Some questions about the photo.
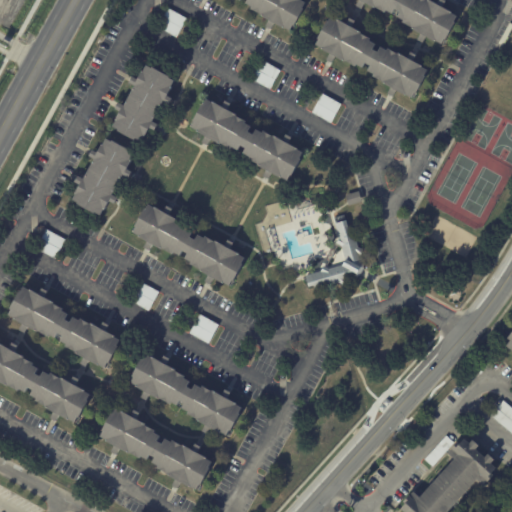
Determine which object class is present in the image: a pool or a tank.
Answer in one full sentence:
The image shows a pool.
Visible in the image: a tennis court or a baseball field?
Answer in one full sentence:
Visible in the photo is a tennis court.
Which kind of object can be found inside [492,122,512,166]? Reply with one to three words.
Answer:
basketball court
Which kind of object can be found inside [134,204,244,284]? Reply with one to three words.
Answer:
building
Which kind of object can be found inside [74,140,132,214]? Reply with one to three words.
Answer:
building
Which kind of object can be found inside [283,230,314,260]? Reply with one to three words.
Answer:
swimming pool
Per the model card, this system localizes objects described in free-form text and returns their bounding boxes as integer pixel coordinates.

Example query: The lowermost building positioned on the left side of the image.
[100,410,211,489]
